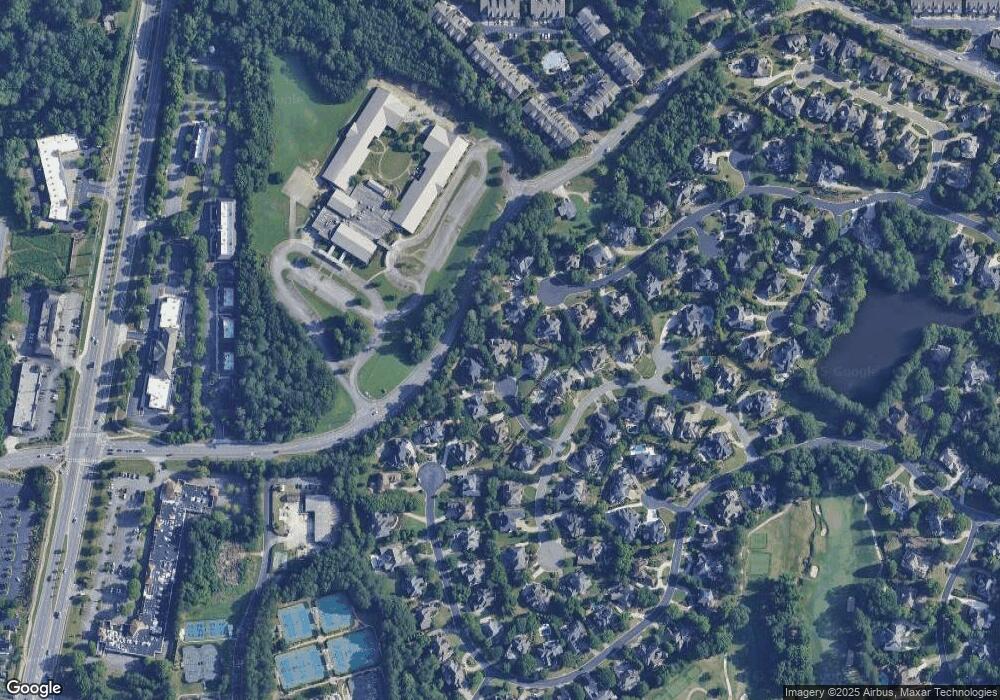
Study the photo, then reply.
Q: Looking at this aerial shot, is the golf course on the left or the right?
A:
right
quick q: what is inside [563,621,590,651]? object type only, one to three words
house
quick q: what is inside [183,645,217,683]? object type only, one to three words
basketball court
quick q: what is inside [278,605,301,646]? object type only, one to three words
tennis court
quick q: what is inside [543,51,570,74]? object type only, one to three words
swimming pool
